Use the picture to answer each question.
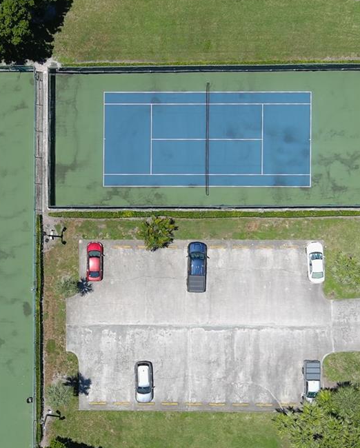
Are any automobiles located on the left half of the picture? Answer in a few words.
Yes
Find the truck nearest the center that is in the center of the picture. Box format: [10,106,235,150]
[188,242,209,293]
